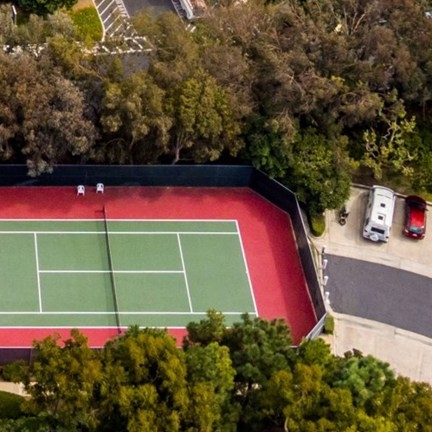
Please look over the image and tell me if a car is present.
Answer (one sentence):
Yes, a car can be made out from above.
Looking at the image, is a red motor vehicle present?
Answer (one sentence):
Yes, the picture does show a red motor vehicle.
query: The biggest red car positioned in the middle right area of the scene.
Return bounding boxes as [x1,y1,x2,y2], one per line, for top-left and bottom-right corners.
[403,194,431,238]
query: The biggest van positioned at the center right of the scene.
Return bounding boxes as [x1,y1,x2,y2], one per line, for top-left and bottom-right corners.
[361,186,397,242]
